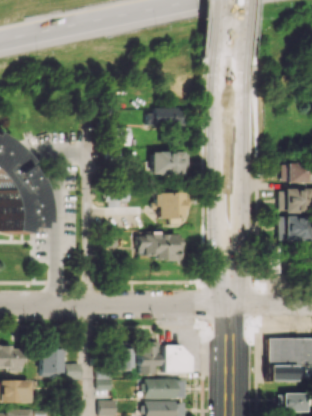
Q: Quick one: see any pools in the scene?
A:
No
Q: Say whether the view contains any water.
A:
No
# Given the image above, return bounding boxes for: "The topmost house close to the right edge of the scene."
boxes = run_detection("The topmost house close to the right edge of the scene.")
[281,164,312,184]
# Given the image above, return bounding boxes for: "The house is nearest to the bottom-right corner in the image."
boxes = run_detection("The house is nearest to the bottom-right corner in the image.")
[278,392,312,412]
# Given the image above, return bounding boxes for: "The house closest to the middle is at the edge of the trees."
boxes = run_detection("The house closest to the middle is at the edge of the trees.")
[156,192,190,220]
